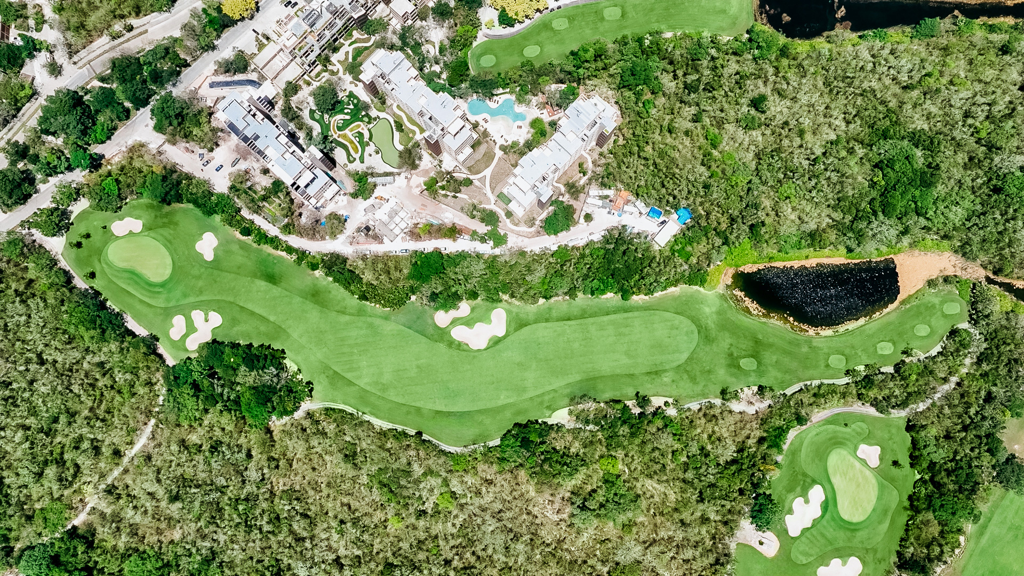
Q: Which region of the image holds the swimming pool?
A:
top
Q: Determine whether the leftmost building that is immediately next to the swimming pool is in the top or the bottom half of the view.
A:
top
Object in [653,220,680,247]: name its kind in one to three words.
shed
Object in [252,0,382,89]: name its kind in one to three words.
building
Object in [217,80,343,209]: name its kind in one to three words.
building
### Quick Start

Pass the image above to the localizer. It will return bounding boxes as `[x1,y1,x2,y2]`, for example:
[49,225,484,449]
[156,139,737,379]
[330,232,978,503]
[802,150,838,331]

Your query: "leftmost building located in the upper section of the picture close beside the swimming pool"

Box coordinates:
[358,49,482,168]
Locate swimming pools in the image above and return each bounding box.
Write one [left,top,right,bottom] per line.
[467,97,527,132]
